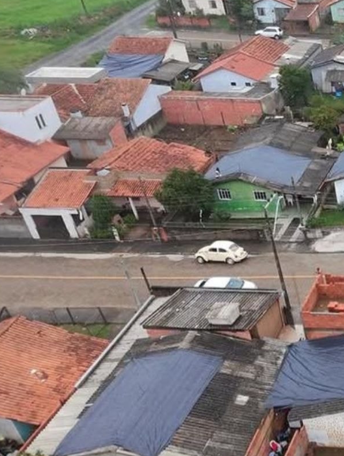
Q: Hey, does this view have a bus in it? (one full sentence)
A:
No, the picture doesn't show any bus.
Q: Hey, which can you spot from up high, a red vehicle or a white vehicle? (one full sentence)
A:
The one in the frame is a white vehicle.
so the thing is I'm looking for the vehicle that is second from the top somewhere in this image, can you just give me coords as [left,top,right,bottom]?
[191,243,249,266]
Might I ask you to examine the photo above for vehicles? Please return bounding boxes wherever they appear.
[253,24,284,38]
[191,243,249,266]
[195,274,257,290]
